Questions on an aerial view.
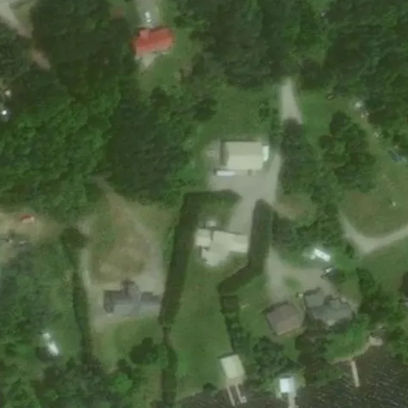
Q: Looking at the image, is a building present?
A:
Yes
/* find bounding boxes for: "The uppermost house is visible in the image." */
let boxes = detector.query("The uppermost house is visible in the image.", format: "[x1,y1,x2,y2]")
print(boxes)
[133,24,174,58]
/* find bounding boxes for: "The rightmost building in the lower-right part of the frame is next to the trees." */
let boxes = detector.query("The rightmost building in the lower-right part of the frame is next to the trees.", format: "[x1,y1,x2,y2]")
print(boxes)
[303,291,356,330]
